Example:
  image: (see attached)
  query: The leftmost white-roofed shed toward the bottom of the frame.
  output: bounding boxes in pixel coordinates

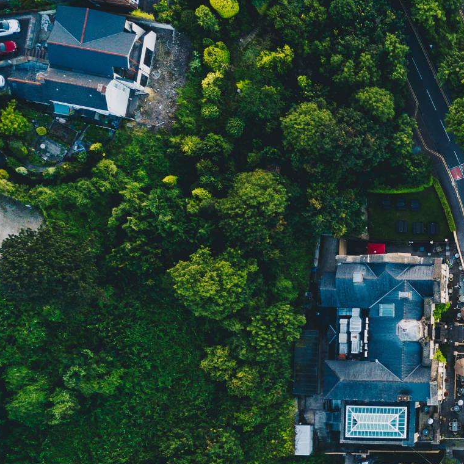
[296,424,317,456]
